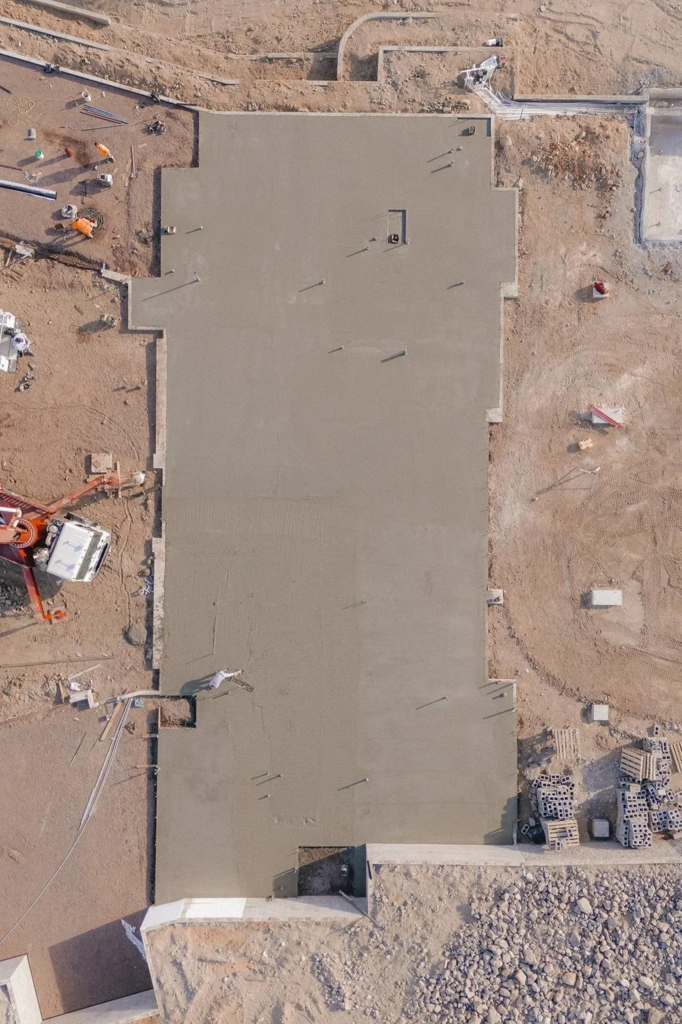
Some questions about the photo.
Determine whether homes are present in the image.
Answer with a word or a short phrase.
No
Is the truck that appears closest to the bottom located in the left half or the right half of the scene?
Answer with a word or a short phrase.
left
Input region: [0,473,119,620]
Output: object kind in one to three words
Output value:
truck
